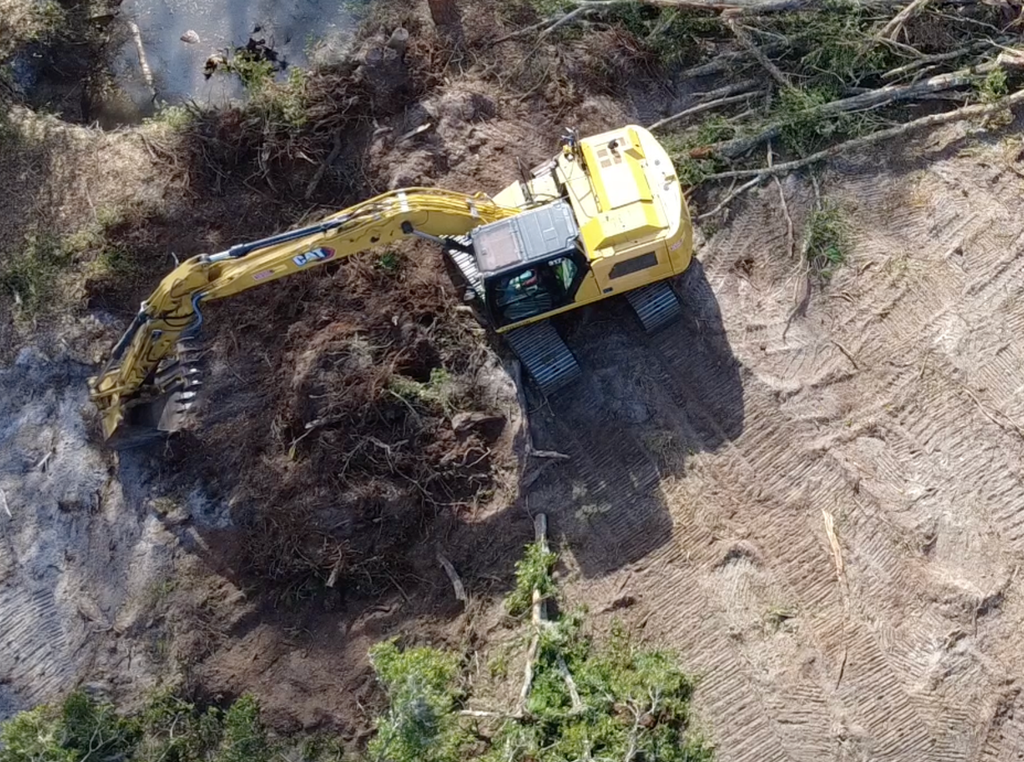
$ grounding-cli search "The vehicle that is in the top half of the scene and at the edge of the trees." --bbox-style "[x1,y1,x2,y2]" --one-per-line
[83,129,693,446]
